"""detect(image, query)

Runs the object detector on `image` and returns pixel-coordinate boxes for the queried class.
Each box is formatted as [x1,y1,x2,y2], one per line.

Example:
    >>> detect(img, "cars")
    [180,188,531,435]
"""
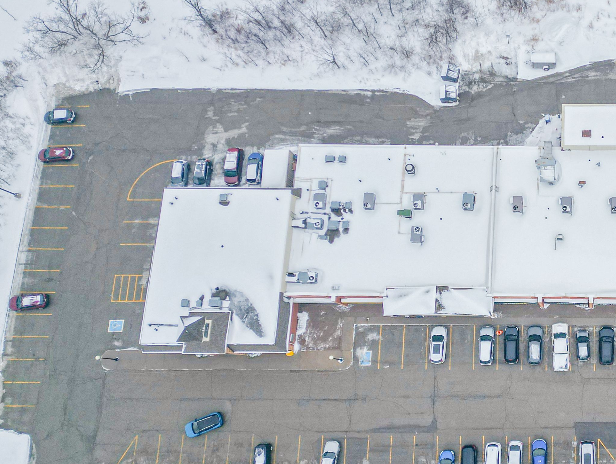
[246,153,263,186]
[255,442,275,464]
[507,441,523,464]
[503,327,521,364]
[525,327,545,365]
[437,450,456,464]
[462,445,479,464]
[185,411,226,438]
[575,330,592,362]
[43,109,78,126]
[484,442,501,464]
[221,147,244,187]
[429,327,447,364]
[8,292,52,311]
[39,146,77,163]
[321,441,341,464]
[530,439,549,464]
[169,160,189,187]
[191,159,213,187]
[598,327,616,365]
[476,327,496,365]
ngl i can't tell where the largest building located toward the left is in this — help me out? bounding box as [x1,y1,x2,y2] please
[138,187,307,356]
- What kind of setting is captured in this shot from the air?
parking lot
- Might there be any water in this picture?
No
